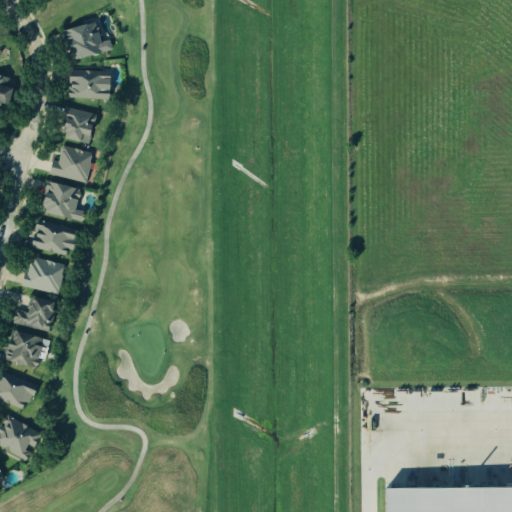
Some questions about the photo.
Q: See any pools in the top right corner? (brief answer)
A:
No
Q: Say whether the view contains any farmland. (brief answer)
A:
Yes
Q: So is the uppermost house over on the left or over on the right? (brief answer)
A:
left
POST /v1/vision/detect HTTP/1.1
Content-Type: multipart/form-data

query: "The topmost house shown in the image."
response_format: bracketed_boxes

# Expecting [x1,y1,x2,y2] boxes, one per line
[64,21,114,60]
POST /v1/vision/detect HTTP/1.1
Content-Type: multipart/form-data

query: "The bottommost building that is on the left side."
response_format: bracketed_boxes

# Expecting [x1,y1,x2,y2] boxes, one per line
[0,415,40,460]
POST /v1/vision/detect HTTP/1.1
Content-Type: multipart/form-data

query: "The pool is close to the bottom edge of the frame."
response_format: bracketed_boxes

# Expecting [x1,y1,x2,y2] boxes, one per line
[4,470,24,488]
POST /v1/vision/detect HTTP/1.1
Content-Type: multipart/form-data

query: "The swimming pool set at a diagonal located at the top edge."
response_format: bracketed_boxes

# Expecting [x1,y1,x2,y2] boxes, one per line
[98,12,118,38]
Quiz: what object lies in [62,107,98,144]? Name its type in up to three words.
house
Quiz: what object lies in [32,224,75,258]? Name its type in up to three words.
house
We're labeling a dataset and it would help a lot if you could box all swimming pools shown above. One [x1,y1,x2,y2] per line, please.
[82,192,98,212]
[4,470,24,488]
[98,12,118,38]
[111,64,122,92]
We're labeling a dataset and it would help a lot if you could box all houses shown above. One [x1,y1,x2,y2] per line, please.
[21,258,64,294]
[13,298,57,330]
[64,21,114,60]
[32,224,75,258]
[0,74,14,104]
[2,330,42,367]
[48,144,92,184]
[62,107,98,144]
[68,68,112,99]
[0,415,40,460]
[0,373,38,408]
[42,182,84,222]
